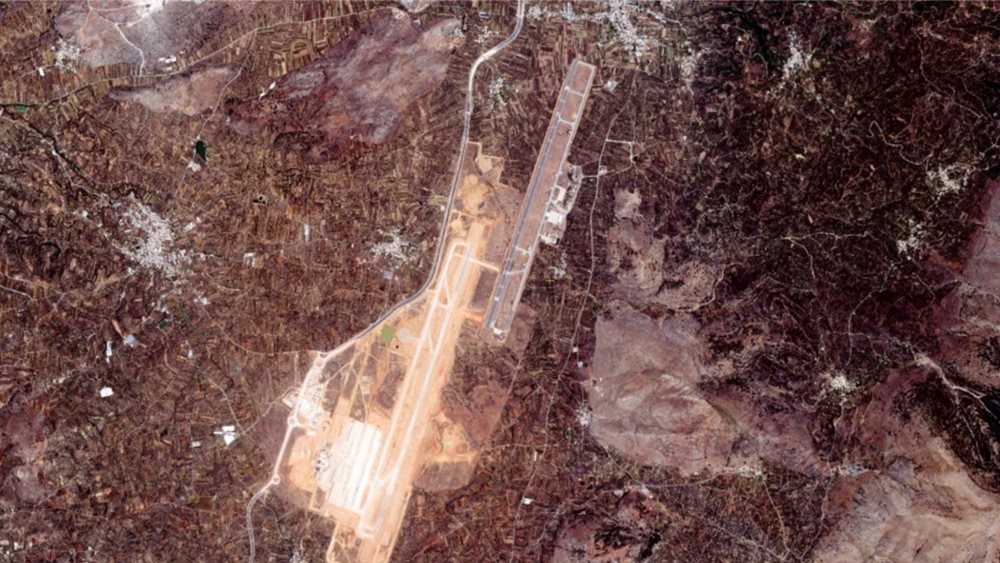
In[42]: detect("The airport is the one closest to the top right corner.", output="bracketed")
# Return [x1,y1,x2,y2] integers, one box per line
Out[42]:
[483,59,600,339]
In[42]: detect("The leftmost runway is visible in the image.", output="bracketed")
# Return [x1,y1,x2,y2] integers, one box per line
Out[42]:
[372,245,473,543]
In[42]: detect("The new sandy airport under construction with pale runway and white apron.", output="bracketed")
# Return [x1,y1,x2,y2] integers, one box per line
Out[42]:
[283,141,528,563]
